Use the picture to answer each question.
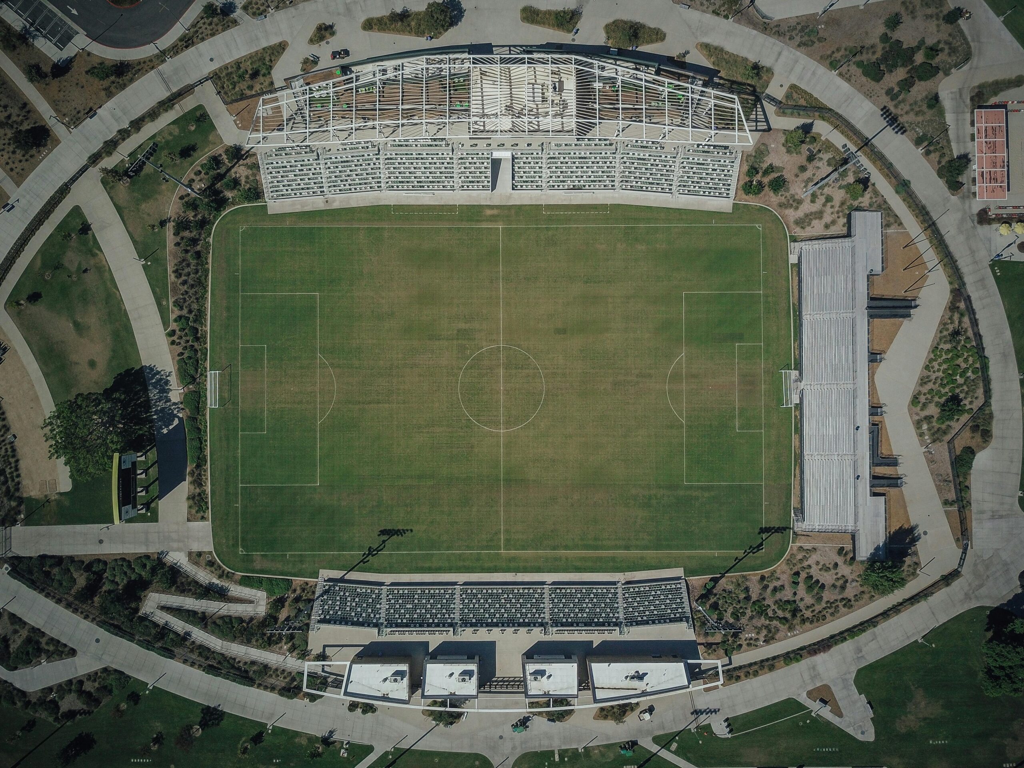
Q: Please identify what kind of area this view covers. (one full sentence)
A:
This image shows a sports ground.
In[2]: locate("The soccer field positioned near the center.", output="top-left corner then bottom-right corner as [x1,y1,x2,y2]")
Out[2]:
[208,202,792,579]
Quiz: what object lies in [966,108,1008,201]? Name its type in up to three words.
building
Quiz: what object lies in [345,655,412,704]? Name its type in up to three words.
building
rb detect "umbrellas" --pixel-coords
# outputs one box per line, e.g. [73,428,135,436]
[1013,223,1024,235]
[997,224,1011,236]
